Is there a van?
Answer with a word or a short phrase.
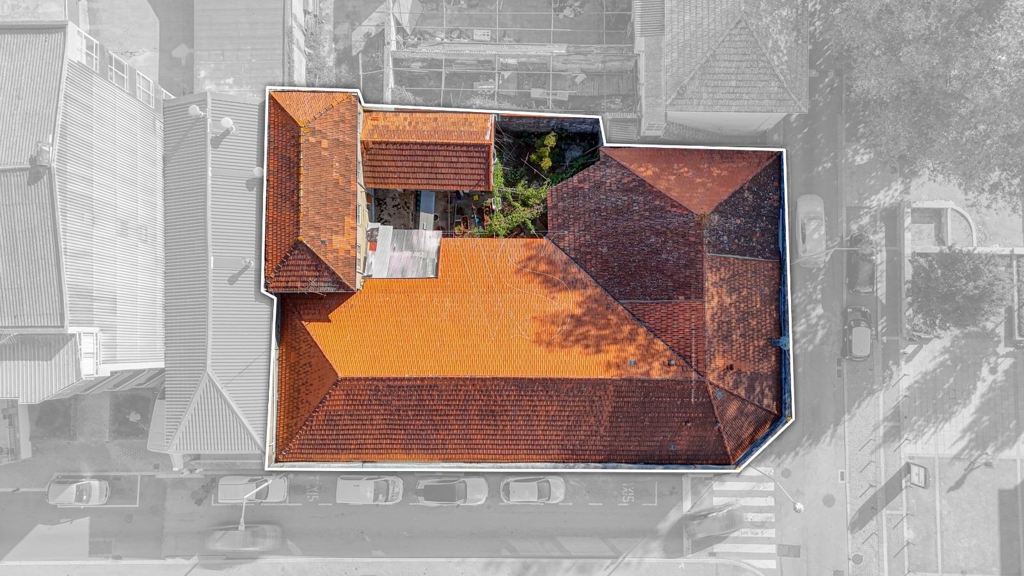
Yes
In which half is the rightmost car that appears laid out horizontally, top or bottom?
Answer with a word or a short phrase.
bottom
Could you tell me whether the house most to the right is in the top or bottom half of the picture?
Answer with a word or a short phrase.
top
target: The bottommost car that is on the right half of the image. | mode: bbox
[677,499,750,542]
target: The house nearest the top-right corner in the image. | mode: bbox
[655,0,810,130]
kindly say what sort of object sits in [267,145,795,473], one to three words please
house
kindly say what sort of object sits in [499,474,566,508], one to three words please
car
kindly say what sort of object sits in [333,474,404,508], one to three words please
van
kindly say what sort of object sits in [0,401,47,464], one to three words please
building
